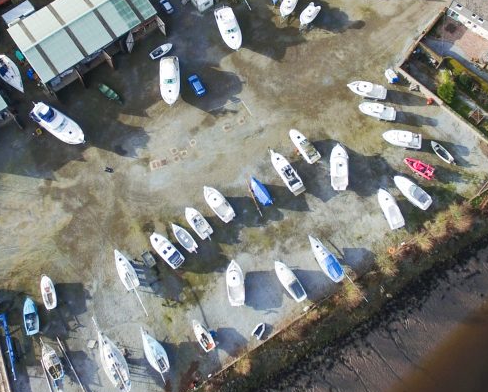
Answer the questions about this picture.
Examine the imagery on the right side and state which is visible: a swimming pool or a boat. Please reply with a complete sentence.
It is a boat that can be seen on the right side.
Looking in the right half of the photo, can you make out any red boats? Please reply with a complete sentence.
Yes, in the right half of the photo there is a red boat.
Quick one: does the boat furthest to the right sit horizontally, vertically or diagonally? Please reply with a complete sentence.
The boat furthest to the right is laid out diagonally.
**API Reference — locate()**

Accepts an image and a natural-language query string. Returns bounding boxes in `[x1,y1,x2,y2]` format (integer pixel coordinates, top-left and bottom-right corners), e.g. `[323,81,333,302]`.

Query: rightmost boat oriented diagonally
[432,141,456,165]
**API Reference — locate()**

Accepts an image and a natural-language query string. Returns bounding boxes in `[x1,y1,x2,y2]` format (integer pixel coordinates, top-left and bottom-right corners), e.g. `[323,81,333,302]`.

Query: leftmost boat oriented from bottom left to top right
[149,44,173,61]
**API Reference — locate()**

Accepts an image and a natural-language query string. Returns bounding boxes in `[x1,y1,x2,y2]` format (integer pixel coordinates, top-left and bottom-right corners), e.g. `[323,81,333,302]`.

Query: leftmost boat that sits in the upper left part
[0,53,27,91]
